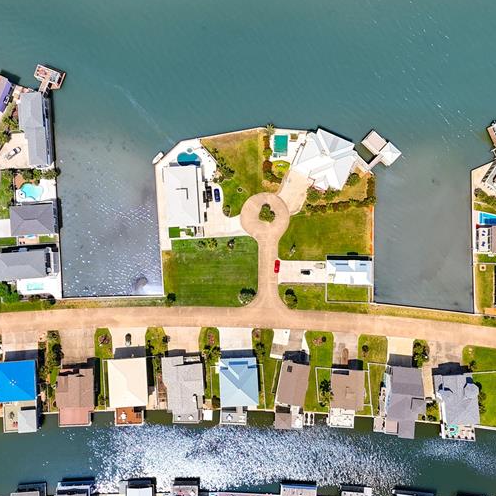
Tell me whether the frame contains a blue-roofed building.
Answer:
Yes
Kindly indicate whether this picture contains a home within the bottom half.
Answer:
Yes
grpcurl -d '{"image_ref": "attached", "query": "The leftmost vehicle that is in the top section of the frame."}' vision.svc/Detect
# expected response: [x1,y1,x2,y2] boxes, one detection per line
[6,147,22,160]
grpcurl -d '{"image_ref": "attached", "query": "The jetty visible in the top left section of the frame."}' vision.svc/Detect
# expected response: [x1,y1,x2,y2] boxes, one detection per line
[33,64,67,94]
